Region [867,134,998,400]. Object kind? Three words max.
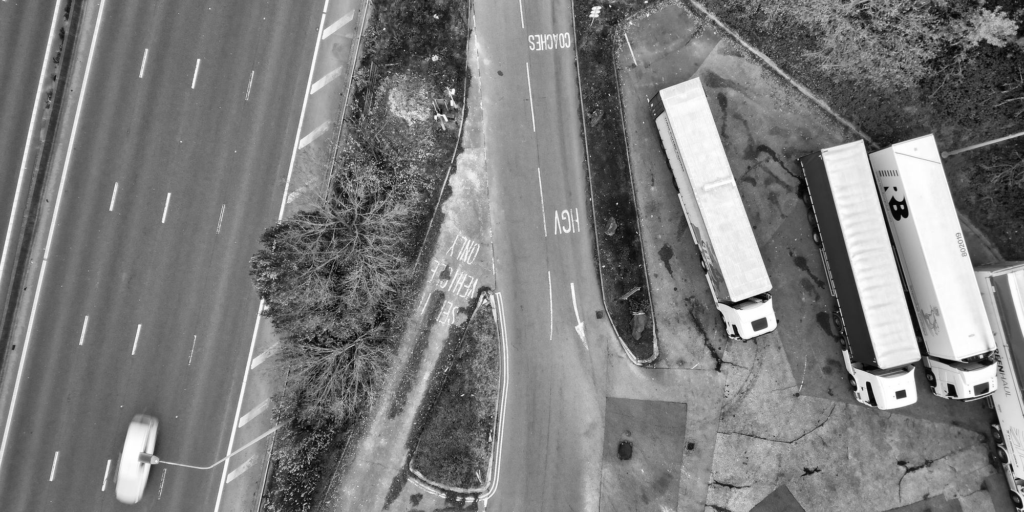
truck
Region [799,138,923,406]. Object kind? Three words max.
truck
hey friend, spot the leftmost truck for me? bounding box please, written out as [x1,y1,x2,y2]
[648,77,778,343]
